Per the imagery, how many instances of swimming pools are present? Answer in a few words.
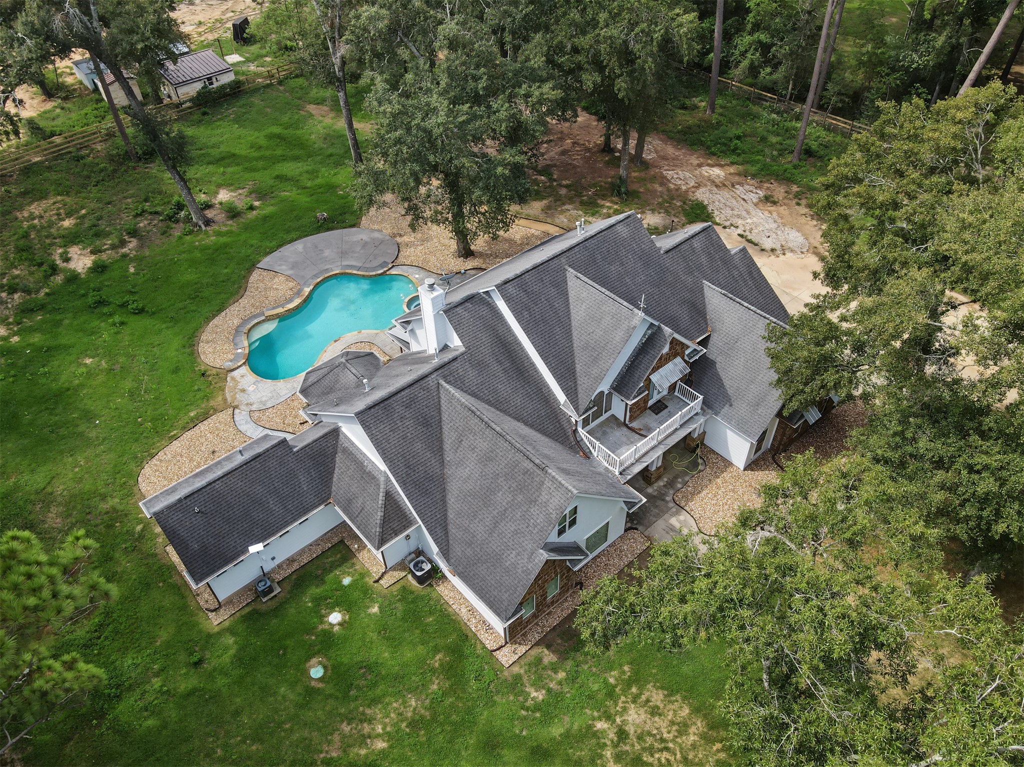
1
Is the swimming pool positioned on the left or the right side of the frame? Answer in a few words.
left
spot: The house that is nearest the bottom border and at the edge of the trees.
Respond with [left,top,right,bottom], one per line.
[136,209,844,652]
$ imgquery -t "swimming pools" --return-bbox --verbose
[225,262,419,393]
